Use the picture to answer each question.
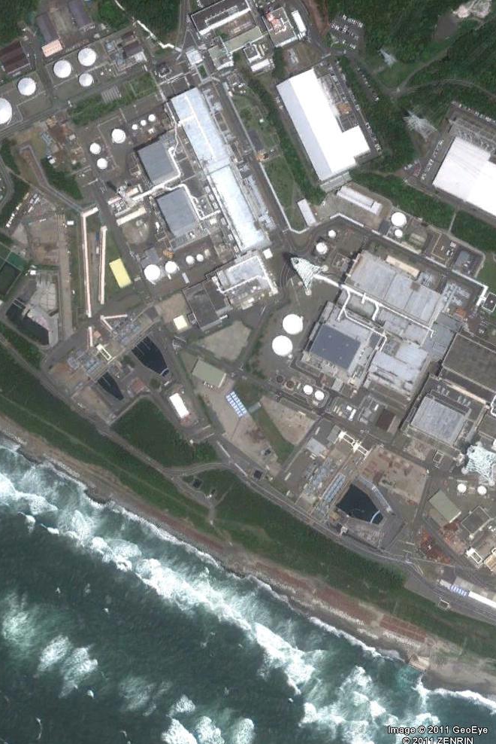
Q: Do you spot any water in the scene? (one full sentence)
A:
Yes, water shows up in the scene.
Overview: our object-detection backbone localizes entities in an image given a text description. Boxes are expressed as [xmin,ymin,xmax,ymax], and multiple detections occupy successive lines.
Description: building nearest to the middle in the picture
[193,359,228,390]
